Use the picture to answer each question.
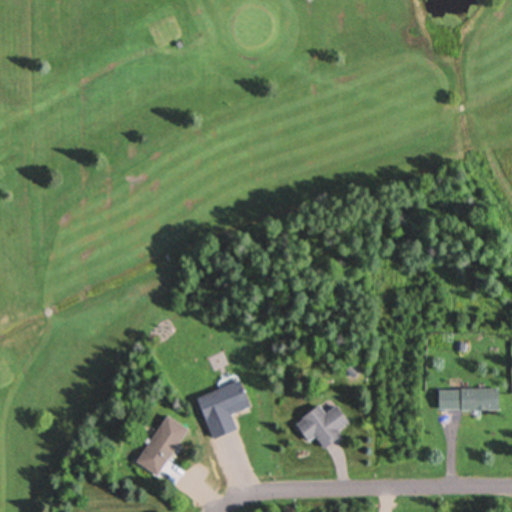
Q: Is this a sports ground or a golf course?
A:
golf course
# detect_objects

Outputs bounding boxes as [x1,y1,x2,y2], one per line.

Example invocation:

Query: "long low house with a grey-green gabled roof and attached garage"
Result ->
[439,378,501,412]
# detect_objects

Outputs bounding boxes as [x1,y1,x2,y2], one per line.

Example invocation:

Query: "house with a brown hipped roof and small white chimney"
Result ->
[136,416,188,476]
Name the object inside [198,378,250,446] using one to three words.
house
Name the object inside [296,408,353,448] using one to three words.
house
